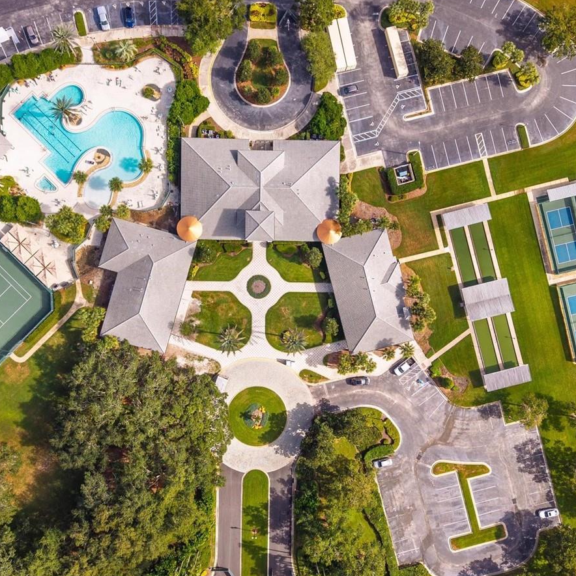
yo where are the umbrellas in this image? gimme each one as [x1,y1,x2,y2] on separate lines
[25,248,64,287]
[165,84,175,95]
[0,224,39,264]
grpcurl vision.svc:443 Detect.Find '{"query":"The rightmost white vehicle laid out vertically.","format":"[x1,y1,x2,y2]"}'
[97,5,110,31]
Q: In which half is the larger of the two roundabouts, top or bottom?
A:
bottom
